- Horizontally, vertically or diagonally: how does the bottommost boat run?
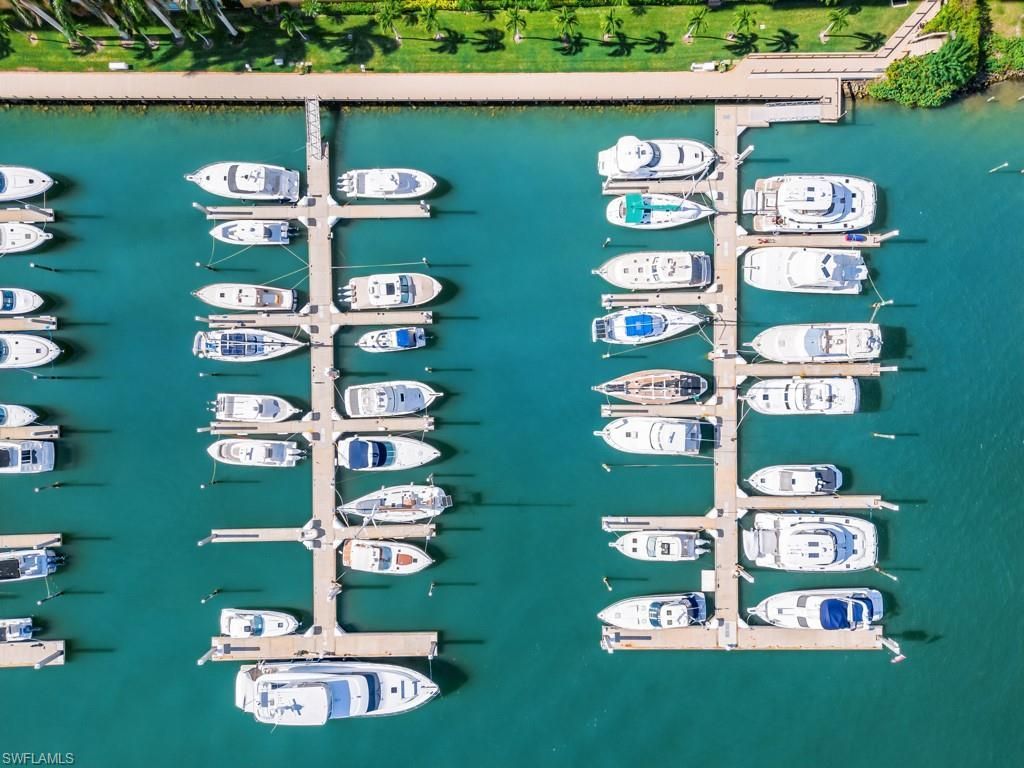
horizontally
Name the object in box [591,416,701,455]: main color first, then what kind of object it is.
white boat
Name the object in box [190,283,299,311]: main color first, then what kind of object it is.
white boat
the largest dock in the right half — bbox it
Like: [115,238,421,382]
[600,105,883,650]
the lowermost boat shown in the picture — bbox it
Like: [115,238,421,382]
[238,656,442,739]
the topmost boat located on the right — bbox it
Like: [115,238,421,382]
[598,139,716,185]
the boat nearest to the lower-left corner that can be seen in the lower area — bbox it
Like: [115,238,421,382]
[0,617,43,641]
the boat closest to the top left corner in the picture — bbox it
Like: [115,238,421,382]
[0,165,59,202]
